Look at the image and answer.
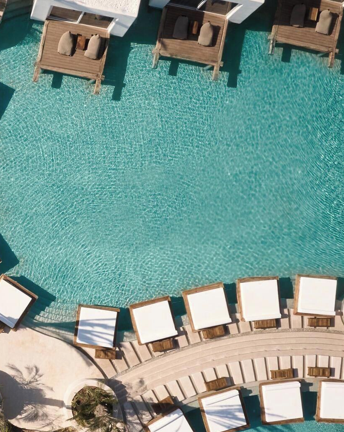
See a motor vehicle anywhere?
No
